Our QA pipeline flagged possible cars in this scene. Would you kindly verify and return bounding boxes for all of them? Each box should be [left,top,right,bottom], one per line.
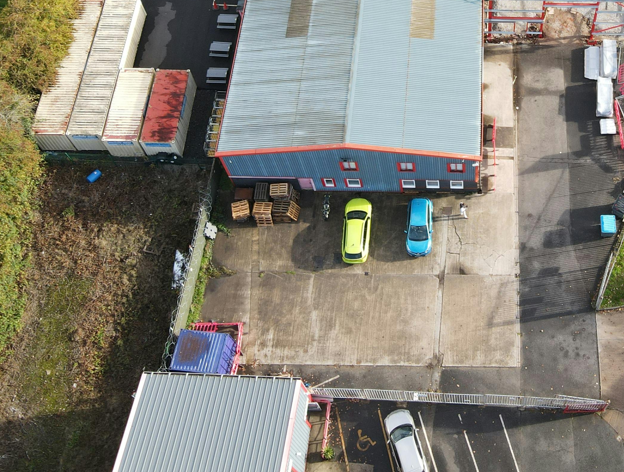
[390,410,427,472]
[339,201,374,266]
[402,200,435,259]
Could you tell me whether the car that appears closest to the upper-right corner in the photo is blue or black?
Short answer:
blue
